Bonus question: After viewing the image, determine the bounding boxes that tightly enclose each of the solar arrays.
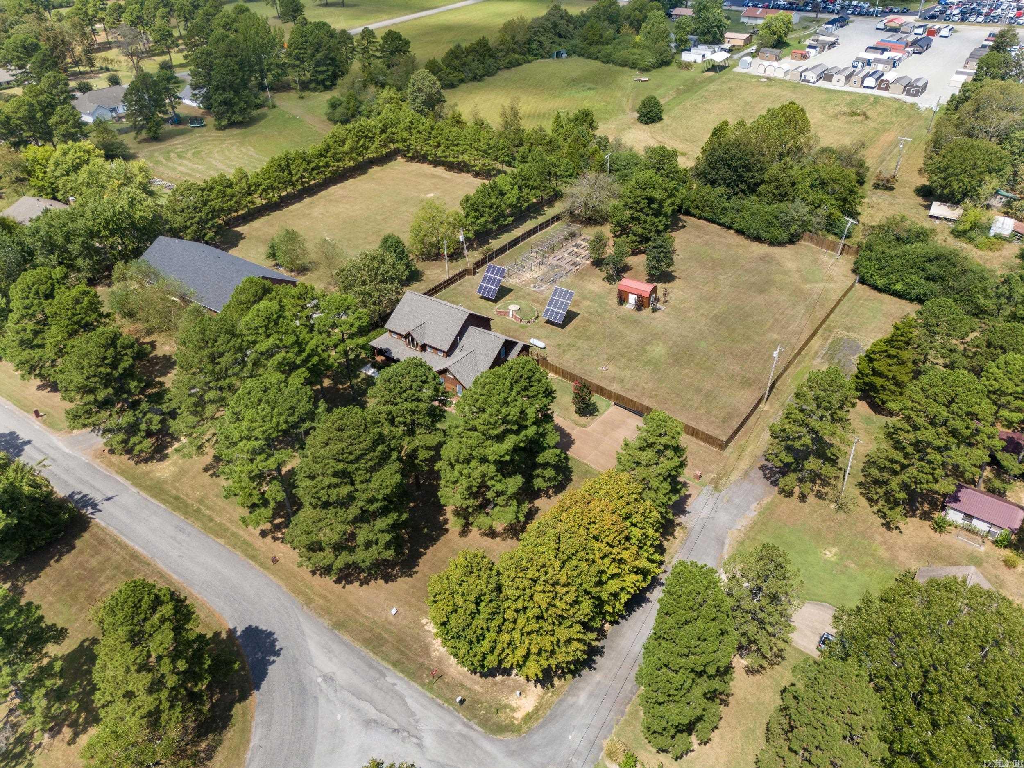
[478,265,505,299]
[542,288,572,325]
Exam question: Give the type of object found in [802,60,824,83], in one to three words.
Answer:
shed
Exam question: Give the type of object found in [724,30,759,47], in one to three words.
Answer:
house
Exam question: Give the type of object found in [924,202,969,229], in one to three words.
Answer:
shed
